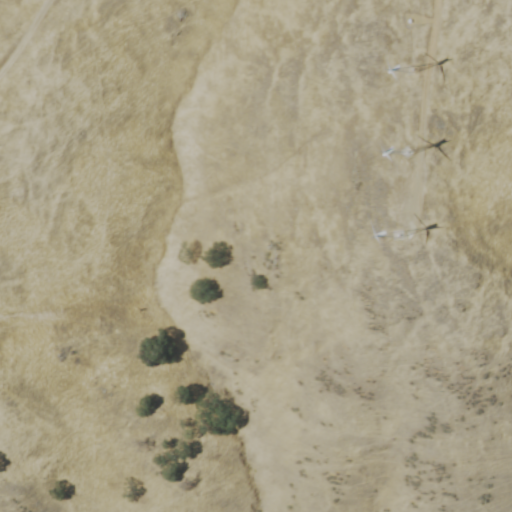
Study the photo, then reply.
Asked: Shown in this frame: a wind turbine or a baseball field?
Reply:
wind turbine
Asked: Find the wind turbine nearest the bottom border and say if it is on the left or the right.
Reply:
right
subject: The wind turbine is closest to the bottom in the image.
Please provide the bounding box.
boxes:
[370,227,402,250]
